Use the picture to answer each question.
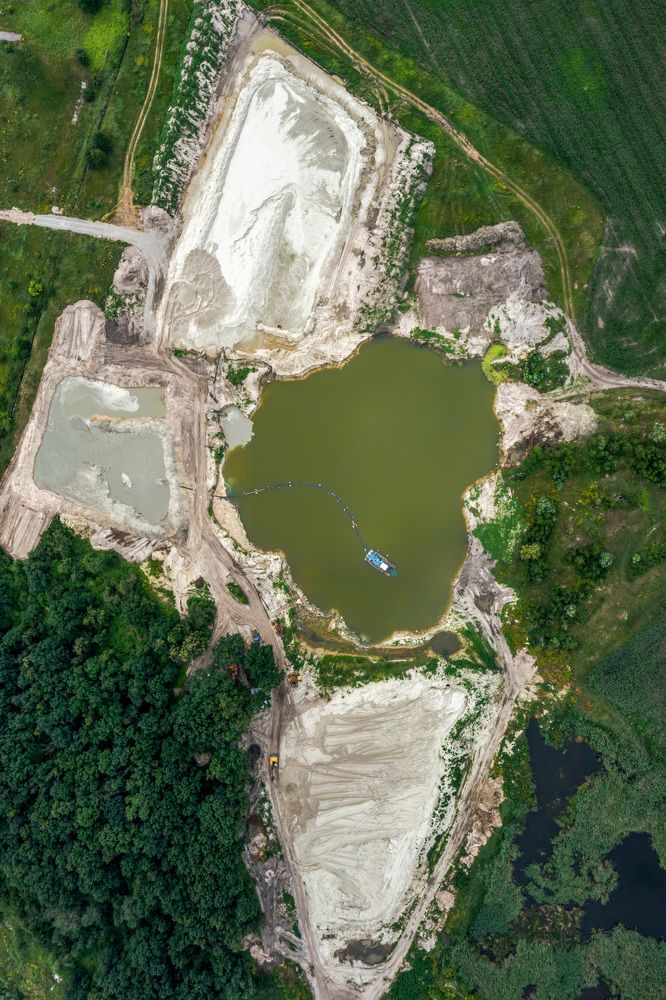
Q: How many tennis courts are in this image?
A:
0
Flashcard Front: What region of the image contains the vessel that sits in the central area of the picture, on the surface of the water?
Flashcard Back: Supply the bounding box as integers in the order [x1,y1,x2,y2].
[363,547,398,576]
